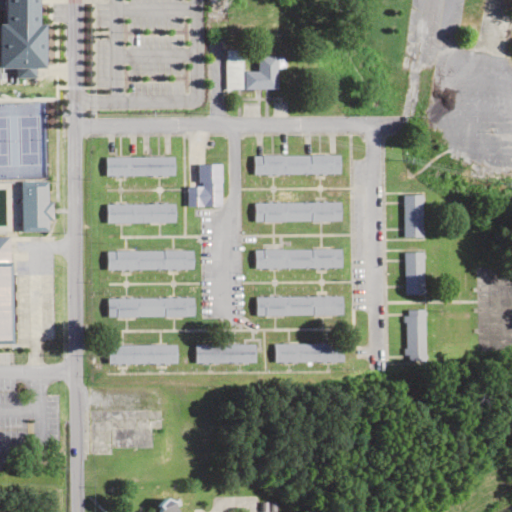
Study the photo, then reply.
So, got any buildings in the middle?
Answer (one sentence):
Yes, a building appears in the middle.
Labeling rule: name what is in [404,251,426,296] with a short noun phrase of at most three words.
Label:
house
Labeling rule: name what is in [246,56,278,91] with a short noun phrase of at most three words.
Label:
house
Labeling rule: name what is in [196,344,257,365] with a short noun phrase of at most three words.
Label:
building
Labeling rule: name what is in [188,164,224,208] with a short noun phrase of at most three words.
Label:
building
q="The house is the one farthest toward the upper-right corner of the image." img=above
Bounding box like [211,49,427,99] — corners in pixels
[404,194,425,238]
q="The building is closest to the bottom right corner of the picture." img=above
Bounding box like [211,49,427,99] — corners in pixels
[404,310,428,362]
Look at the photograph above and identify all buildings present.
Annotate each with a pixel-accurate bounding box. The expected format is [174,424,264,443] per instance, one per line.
[22,183,54,232]
[246,56,278,91]
[0,260,14,344]
[108,297,196,319]
[255,154,342,176]
[108,250,194,272]
[255,202,343,224]
[196,344,257,365]
[106,156,176,178]
[159,500,182,512]
[255,248,344,270]
[107,202,178,224]
[1,0,48,77]
[188,164,224,208]
[404,194,425,238]
[257,296,345,318]
[404,310,428,362]
[404,251,426,296]
[109,344,179,365]
[226,50,245,91]
[275,343,346,364]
